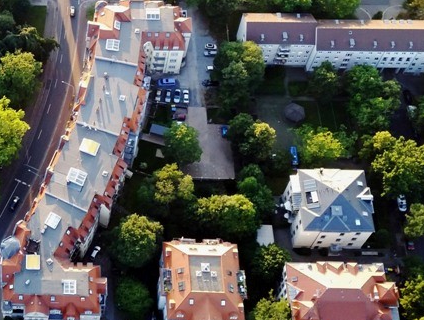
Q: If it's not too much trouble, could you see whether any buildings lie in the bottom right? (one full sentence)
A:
Yes, I can see a building in the bottom right.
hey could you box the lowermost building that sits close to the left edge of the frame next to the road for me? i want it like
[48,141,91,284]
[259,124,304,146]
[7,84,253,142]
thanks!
[0,235,104,320]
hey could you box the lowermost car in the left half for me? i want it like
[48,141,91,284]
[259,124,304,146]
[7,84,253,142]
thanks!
[90,243,102,260]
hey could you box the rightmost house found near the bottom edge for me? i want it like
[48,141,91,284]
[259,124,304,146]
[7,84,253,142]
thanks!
[270,260,402,320]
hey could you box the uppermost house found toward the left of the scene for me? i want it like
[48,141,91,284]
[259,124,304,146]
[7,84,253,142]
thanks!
[78,0,195,92]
